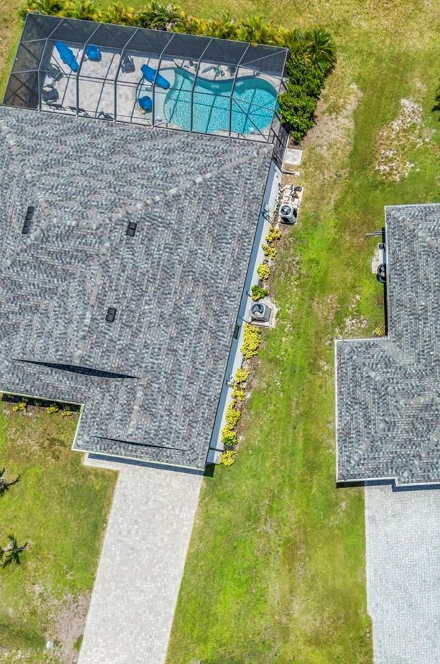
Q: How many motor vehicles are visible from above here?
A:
none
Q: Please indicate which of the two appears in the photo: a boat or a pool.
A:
pool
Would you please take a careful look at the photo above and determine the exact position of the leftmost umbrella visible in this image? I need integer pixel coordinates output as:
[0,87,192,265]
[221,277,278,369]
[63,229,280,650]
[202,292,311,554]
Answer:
[54,42,83,75]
